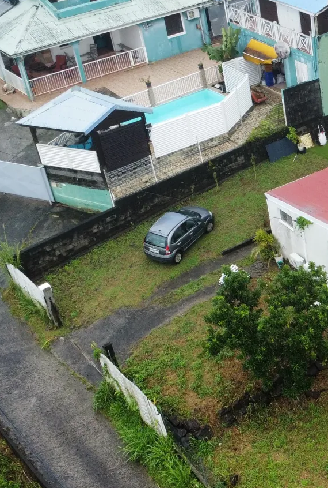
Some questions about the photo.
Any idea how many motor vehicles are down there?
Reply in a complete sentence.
I count 1 motor vehicle.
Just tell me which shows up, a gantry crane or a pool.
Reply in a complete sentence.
Looking from above, you can make out a pool.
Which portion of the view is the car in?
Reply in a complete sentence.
You can find the car in the center area of the picture.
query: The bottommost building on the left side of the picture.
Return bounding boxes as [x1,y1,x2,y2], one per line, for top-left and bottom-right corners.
[15,85,152,170]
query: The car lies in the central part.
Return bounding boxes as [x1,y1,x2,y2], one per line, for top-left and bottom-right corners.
[132,207,209,263]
